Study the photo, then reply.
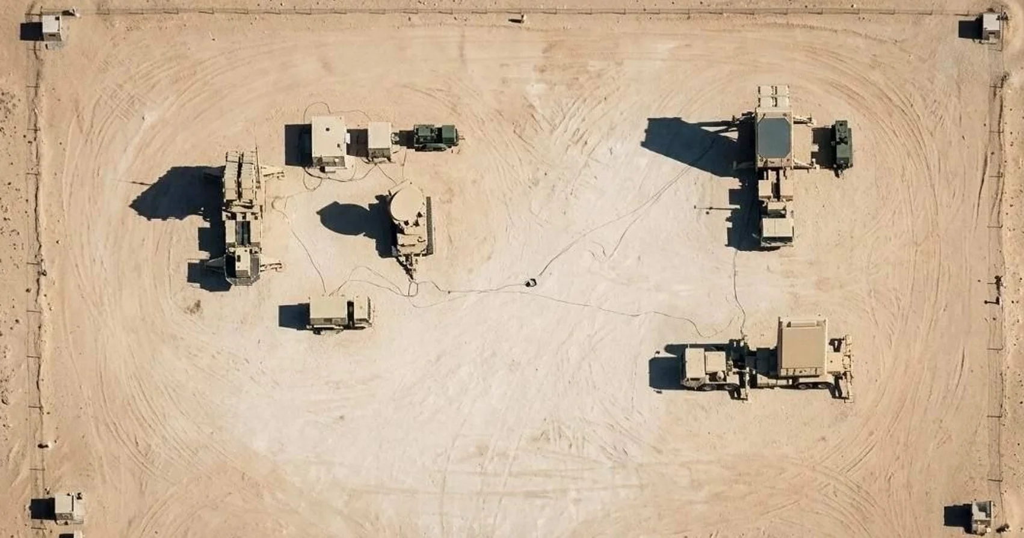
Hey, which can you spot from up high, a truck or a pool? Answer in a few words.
truck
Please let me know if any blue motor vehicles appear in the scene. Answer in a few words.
No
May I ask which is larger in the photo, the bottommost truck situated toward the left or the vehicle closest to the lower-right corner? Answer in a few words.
the vehicle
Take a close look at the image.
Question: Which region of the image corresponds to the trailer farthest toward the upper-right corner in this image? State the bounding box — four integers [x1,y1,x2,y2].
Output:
[831,120,852,176]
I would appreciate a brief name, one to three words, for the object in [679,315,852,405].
vehicle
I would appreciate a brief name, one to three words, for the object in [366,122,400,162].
trailer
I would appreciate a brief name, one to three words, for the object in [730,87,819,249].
truck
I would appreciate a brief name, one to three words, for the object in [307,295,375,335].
truck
